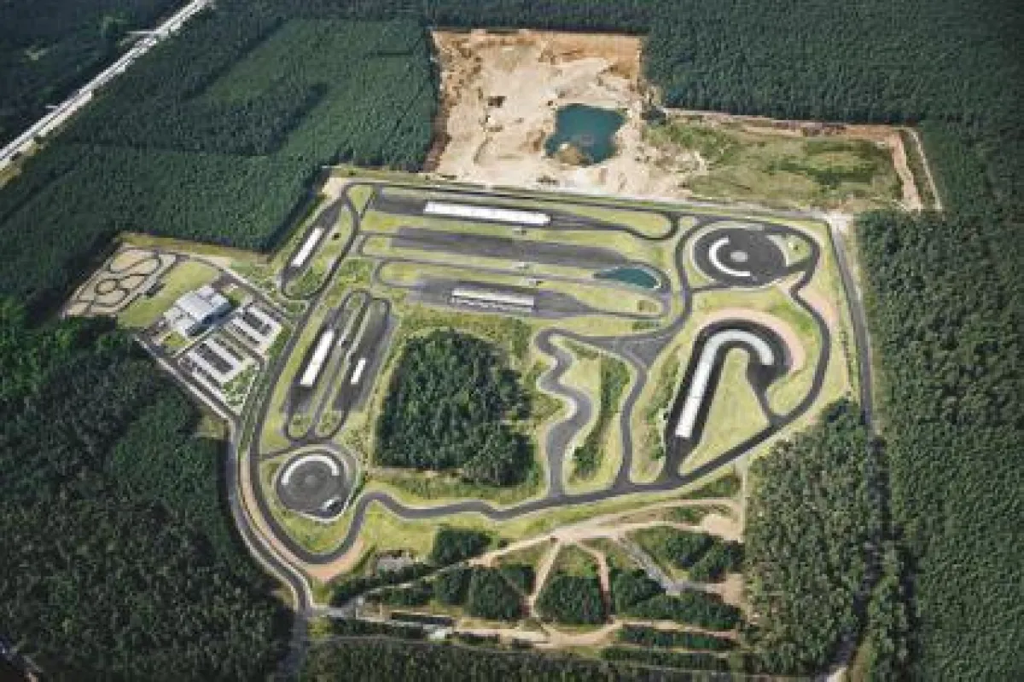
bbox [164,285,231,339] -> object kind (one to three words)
building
